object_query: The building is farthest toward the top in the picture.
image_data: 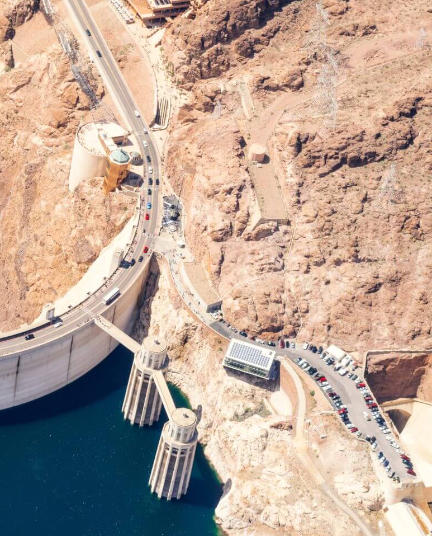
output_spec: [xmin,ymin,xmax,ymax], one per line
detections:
[128,0,191,26]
